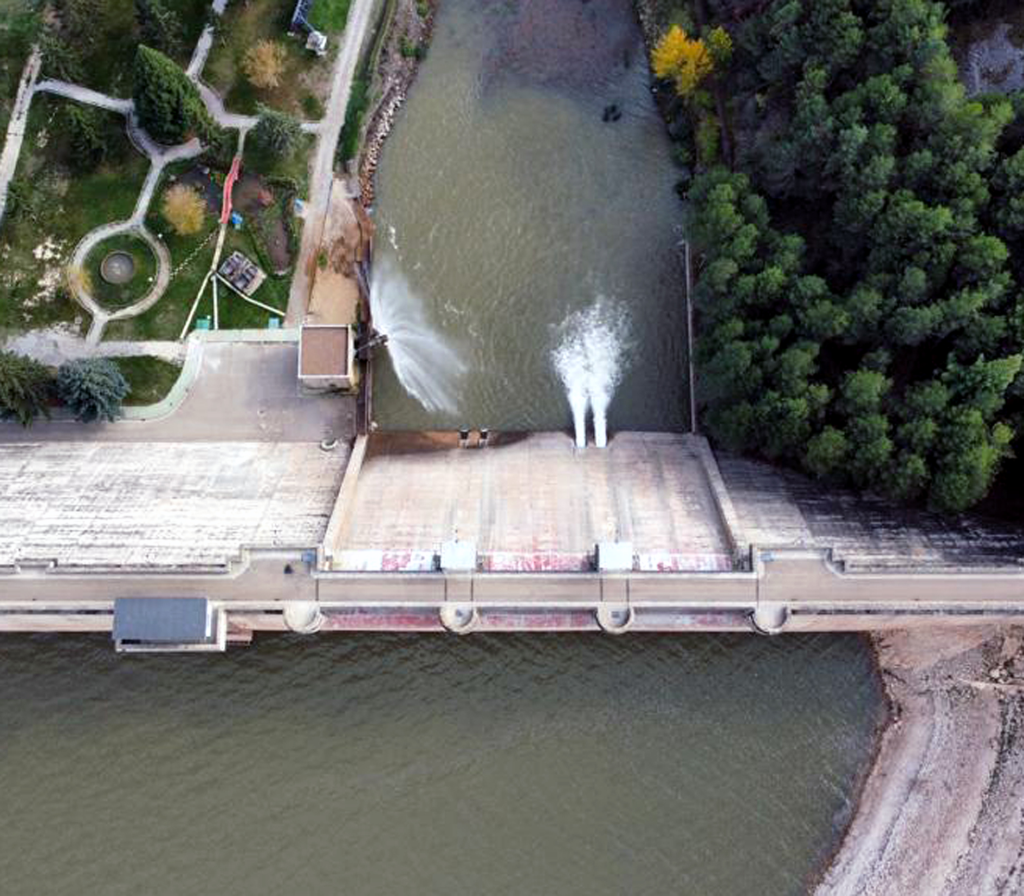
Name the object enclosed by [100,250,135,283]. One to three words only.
fountain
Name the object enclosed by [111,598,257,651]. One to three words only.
building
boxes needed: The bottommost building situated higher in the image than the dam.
[298,326,359,394]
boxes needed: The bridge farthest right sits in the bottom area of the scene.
[314,567,761,607]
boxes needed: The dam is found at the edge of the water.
[0,432,1024,635]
